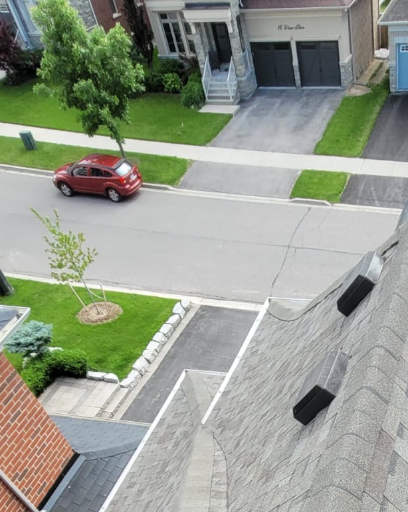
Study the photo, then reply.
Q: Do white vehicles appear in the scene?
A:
No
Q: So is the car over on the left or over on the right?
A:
left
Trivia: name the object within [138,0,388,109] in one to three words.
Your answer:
house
